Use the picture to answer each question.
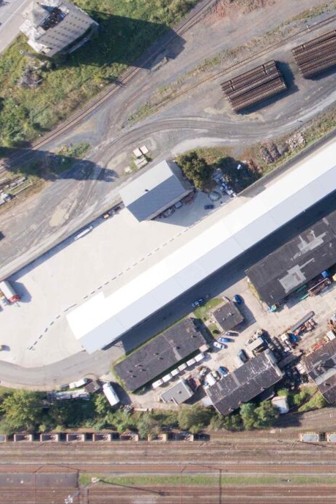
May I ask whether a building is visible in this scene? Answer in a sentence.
Yes, a building can be made out from above.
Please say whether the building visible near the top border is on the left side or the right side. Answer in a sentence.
The building visible near the top border appears in the left half of the scene.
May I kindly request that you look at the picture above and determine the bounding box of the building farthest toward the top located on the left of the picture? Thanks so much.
[20,0,100,59]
